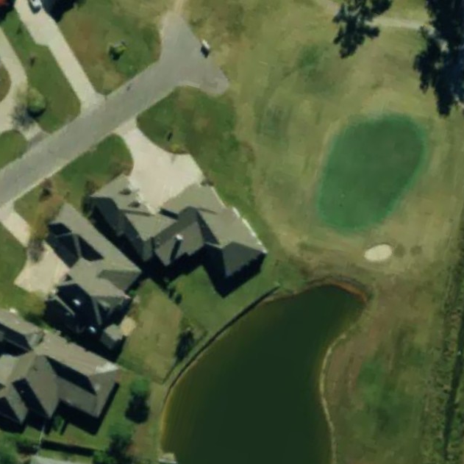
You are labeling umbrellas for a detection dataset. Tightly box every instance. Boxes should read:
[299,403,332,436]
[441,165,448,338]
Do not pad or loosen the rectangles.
[121,317,136,333]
